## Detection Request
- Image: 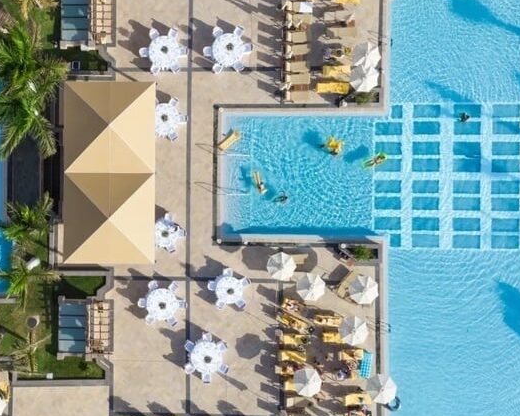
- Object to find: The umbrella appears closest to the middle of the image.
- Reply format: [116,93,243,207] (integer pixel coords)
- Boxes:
[266,247,297,278]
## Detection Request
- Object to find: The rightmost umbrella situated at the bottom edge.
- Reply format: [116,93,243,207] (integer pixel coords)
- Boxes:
[363,372,395,403]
